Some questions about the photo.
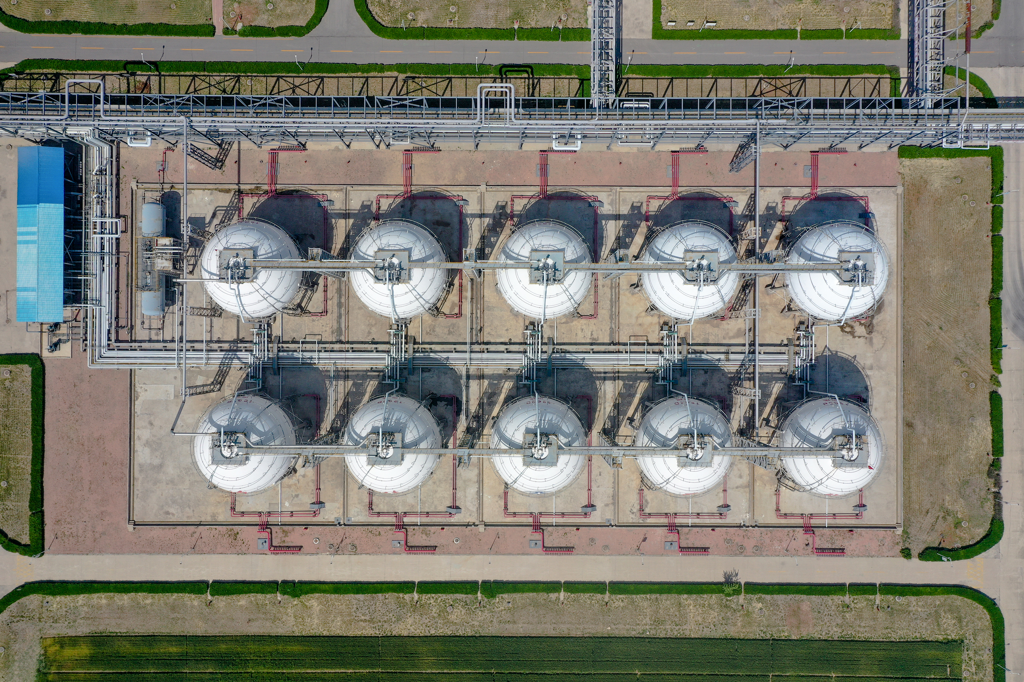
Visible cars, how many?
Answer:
none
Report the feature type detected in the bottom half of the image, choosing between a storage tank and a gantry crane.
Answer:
storage tank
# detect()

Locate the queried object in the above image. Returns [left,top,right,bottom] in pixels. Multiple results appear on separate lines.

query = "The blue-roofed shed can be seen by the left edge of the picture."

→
[17,144,78,322]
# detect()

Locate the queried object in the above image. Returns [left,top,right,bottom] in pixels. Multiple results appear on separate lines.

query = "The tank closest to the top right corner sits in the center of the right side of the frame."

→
[766,221,893,325]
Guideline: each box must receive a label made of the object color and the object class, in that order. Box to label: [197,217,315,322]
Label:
white storage tank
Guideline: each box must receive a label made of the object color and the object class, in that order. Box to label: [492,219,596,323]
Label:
white storage tank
